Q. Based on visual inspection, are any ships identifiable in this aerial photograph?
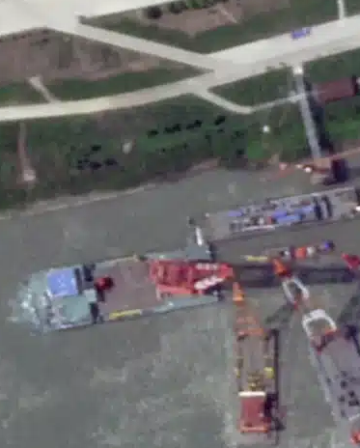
Yes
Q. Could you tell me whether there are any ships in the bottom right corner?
Yes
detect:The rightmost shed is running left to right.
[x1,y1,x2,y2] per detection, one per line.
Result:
[317,79,357,100]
